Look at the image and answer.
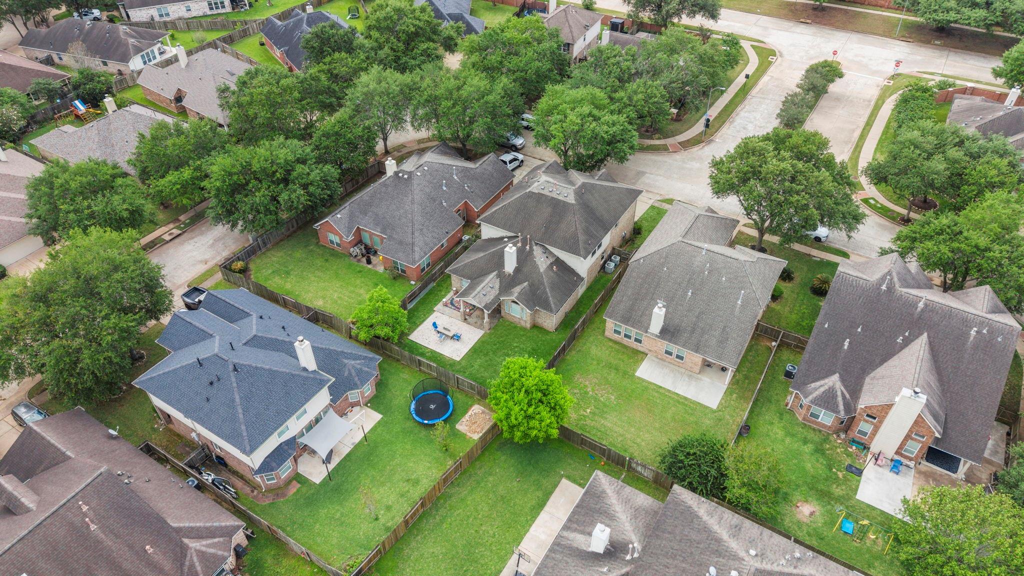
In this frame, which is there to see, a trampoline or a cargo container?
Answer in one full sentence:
Of the two, only a trampoline appears.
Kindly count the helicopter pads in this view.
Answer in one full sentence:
There are no helicopter pads in this view.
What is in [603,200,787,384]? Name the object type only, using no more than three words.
house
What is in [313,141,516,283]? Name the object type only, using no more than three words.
house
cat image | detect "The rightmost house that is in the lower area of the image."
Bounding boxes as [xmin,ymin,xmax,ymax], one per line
[783,252,1022,477]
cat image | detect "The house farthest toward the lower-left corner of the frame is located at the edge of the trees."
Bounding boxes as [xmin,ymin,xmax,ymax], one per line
[0,406,247,576]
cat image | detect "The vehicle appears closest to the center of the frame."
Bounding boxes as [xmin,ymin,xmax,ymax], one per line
[503,155,527,172]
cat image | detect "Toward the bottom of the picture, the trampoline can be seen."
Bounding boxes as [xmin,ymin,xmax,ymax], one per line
[407,381,457,431]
